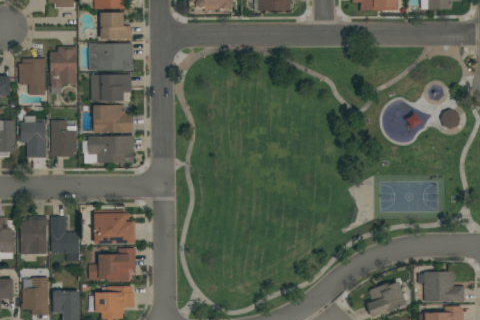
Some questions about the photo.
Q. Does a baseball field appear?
No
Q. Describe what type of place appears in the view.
residential area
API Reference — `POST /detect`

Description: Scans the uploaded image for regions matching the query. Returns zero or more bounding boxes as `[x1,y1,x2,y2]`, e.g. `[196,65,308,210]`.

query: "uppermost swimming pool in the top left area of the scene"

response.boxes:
[80,14,96,37]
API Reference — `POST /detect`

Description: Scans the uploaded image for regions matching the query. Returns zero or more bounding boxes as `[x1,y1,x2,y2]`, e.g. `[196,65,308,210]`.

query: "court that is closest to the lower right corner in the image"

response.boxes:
[374,176,445,220]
